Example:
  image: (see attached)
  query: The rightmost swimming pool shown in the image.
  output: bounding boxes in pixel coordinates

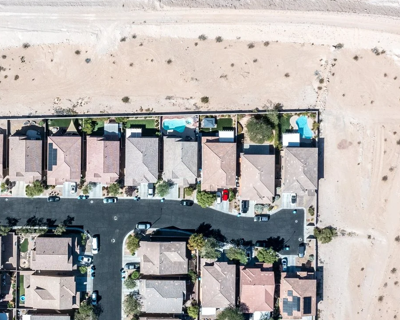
[295,115,314,140]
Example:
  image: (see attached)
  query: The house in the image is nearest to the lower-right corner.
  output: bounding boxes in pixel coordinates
[276,272,316,319]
